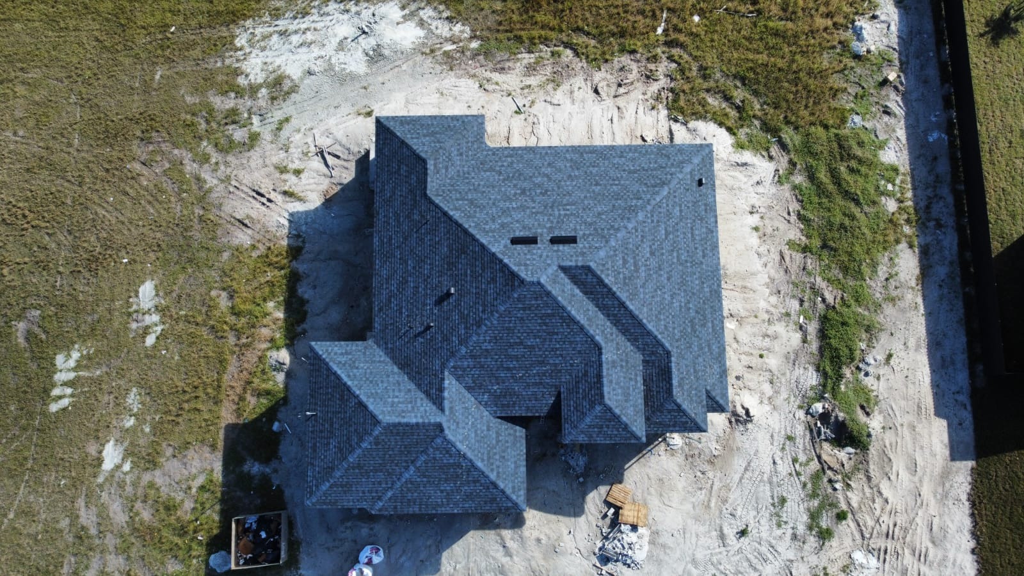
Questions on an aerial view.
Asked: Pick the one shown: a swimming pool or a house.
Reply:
house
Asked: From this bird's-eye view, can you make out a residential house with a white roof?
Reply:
No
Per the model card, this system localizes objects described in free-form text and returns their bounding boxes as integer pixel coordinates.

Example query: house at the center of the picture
[303,112,730,515]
